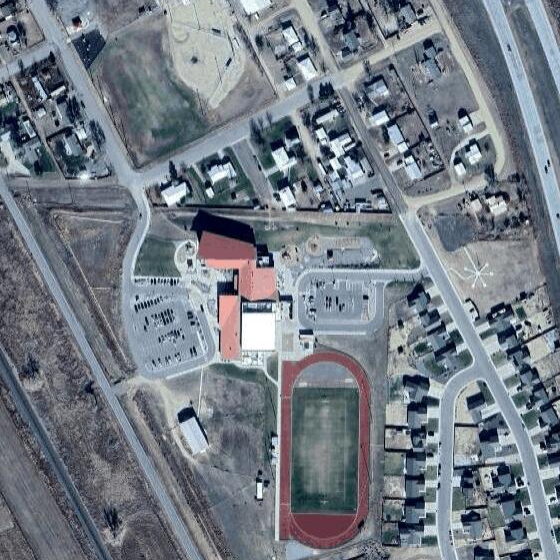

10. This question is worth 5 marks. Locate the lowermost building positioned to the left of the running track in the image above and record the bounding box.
[179,417,209,453]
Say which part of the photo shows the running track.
bottom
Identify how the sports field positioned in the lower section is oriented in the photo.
up and down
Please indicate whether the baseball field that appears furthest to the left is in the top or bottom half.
top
